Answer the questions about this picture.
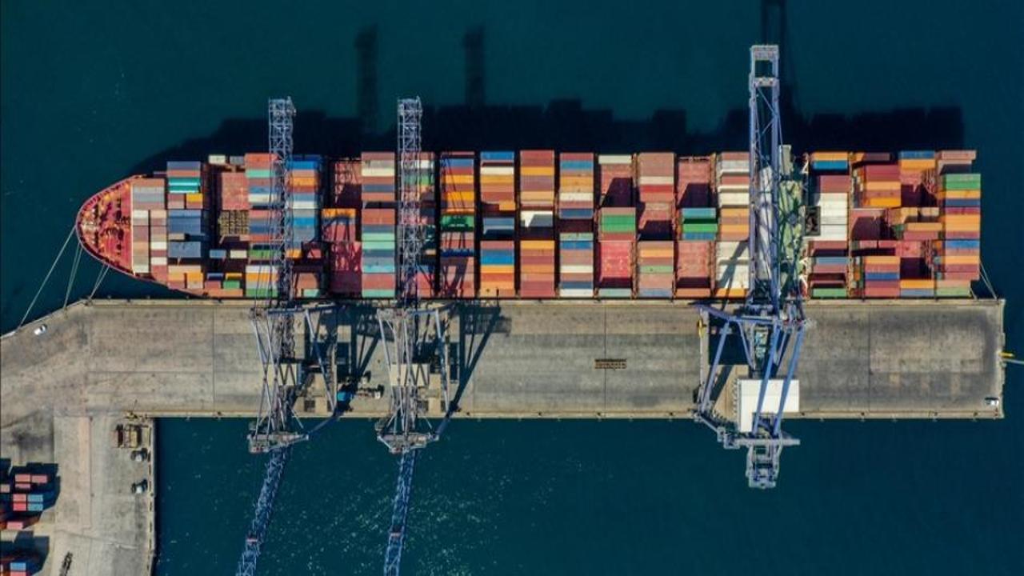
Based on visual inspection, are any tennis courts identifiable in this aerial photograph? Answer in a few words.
No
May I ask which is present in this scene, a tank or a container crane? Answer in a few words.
container crane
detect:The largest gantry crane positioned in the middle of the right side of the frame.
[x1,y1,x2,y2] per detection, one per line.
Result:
[687,44,807,492]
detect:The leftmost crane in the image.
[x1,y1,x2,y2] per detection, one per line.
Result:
[227,97,344,576]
